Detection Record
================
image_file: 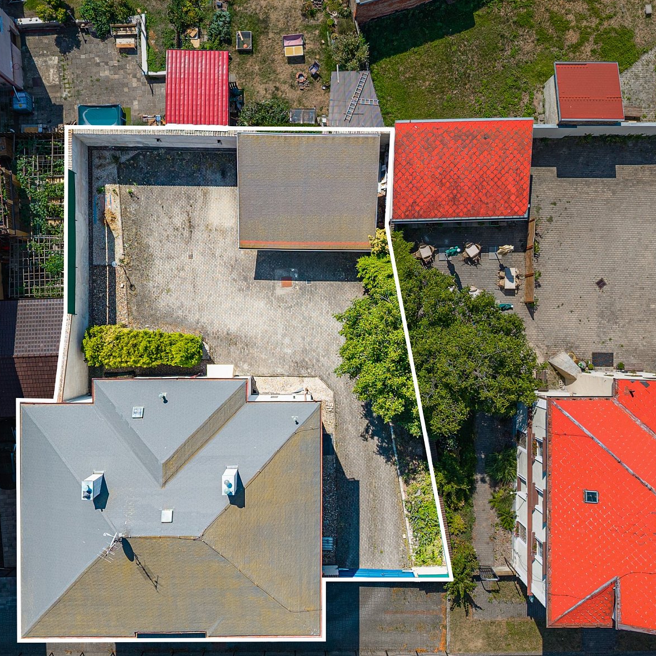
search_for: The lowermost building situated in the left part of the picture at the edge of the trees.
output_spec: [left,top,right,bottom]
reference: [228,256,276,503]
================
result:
[20,369,332,640]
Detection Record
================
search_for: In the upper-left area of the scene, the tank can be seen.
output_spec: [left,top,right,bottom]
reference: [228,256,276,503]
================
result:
[9,87,31,112]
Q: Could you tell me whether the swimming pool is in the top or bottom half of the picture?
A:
top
